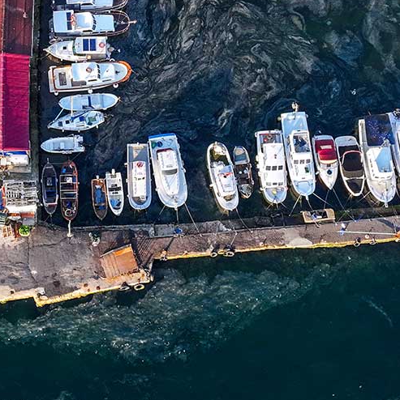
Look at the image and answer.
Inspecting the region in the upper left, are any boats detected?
Yes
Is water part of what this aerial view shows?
Yes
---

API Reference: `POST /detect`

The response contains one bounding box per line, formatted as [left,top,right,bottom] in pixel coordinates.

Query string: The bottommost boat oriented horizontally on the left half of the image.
[42,135,87,153]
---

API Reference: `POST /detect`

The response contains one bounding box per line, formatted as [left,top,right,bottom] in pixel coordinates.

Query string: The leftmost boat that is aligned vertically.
[41,162,59,214]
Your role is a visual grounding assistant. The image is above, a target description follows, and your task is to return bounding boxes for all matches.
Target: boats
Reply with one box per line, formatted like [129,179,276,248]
[233,146,253,198]
[49,98,109,134]
[91,176,108,221]
[275,105,317,196]
[43,36,119,62]
[149,130,188,209]
[58,92,121,109]
[41,162,59,214]
[60,161,79,221]
[42,135,87,153]
[252,131,288,205]
[312,133,337,190]
[354,114,397,205]
[386,107,400,183]
[207,141,238,212]
[124,145,153,210]
[333,136,363,196]
[106,169,125,216]
[50,9,138,38]
[54,0,127,10]
[45,60,134,94]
